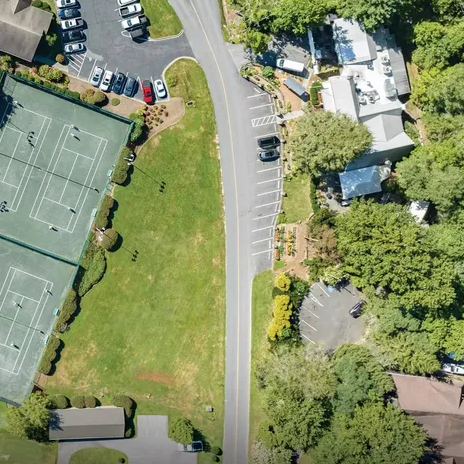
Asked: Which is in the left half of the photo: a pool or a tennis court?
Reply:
tennis court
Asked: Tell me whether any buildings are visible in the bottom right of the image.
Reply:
Yes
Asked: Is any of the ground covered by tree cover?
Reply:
Yes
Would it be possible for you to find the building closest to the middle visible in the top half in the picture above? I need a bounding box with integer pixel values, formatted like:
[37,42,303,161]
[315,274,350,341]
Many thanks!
[334,166,382,198]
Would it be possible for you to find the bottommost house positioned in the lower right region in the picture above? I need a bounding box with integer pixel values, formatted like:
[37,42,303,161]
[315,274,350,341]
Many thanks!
[406,412,464,464]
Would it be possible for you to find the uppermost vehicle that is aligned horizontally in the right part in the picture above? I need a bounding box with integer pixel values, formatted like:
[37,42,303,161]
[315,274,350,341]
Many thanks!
[276,59,307,73]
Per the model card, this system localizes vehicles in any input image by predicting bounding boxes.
[346,302,364,317]
[117,0,135,6]
[257,136,278,146]
[141,80,153,104]
[442,362,464,374]
[276,59,307,73]
[56,0,76,9]
[175,439,200,451]
[100,70,112,90]
[64,43,83,53]
[60,17,84,30]
[122,15,147,29]
[125,27,149,41]
[112,73,124,93]
[258,150,279,160]
[118,3,142,18]
[59,9,79,19]
[61,30,85,43]
[91,67,103,86]
[124,77,136,97]
[154,79,166,99]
